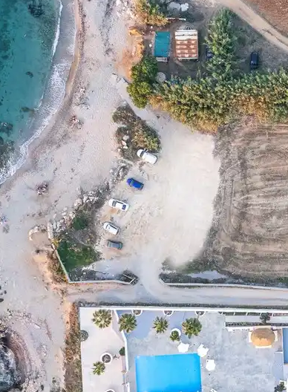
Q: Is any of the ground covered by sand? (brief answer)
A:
Yes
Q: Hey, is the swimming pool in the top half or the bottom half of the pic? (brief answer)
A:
bottom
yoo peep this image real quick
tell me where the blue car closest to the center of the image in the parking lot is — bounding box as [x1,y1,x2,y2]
[126,177,145,190]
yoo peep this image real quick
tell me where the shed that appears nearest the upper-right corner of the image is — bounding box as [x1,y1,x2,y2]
[174,29,198,60]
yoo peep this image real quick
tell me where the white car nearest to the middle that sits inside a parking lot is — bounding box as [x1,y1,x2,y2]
[109,199,130,211]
